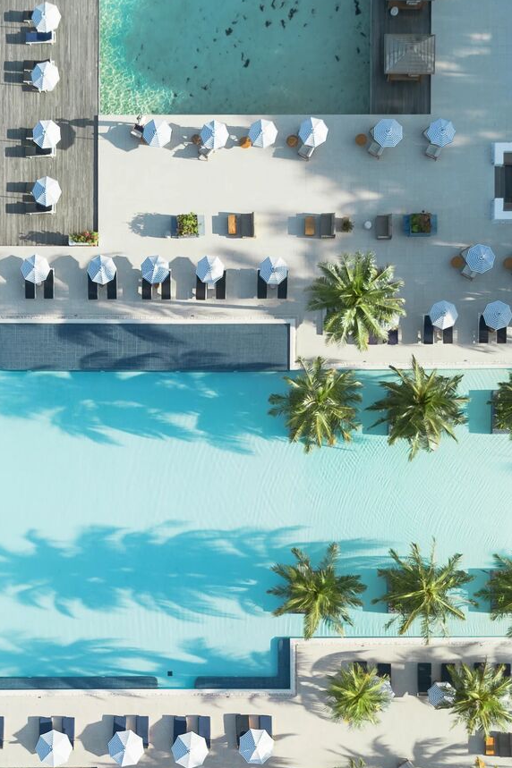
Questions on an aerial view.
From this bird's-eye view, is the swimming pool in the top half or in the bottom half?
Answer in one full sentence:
It is in the bottom half that the swimming pool appears.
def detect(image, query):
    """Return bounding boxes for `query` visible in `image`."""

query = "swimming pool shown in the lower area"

[0,325,512,689]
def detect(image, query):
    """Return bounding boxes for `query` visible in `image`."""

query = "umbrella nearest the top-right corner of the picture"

[426,119,455,148]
